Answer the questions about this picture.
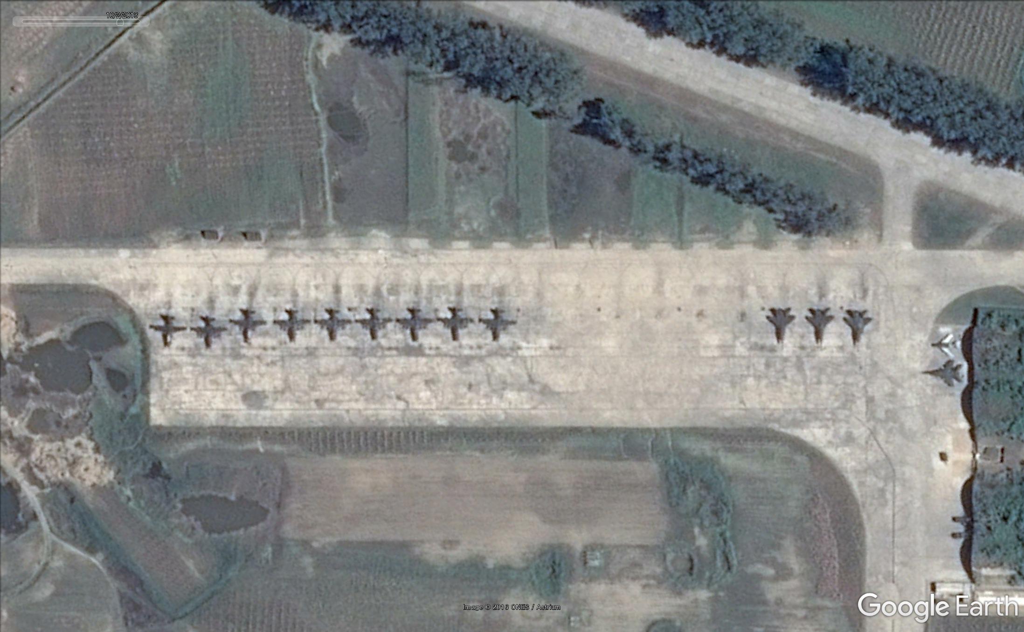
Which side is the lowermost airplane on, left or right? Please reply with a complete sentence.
It is on the right.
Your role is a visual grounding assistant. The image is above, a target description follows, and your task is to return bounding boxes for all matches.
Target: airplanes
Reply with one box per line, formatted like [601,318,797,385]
[151,313,185,348]
[399,308,433,343]
[932,334,959,356]
[923,360,960,387]
[358,307,392,340]
[767,307,794,347]
[439,307,473,340]
[479,308,513,343]
[806,307,833,345]
[192,314,226,347]
[230,309,264,341]
[275,308,309,341]
[844,309,871,346]
[316,308,350,341]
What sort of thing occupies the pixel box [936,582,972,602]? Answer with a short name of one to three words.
building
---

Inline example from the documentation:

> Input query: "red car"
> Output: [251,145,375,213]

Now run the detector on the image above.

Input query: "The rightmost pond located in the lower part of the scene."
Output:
[179,495,273,535]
